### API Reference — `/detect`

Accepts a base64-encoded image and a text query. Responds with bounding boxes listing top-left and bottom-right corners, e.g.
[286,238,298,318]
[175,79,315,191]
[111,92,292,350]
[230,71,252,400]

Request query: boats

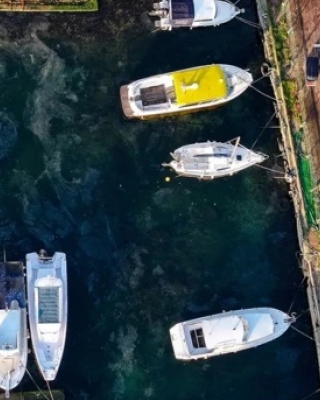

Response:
[160,112,285,180]
[163,283,311,364]
[0,246,46,400]
[145,0,264,32]
[26,246,68,400]
[117,63,276,122]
